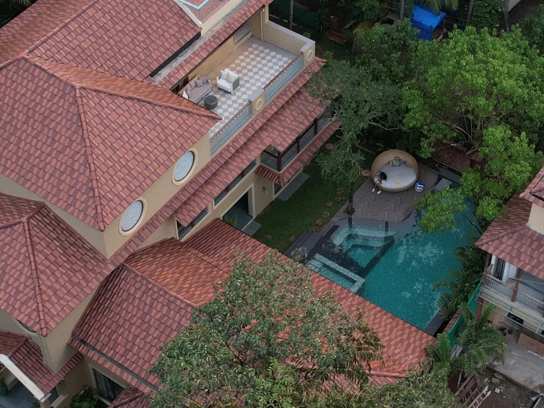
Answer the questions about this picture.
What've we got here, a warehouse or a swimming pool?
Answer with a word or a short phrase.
swimming pool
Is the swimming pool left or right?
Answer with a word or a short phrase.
right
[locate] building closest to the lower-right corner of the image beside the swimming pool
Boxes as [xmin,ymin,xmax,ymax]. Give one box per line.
[471,159,544,341]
